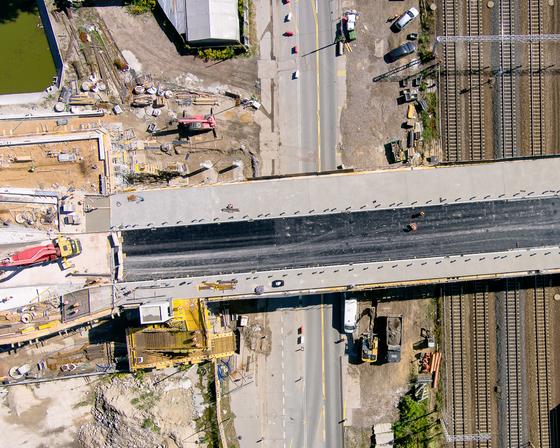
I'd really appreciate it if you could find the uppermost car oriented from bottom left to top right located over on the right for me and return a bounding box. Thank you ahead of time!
[390,8,420,34]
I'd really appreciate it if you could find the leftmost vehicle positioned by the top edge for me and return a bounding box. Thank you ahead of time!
[341,13,358,45]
